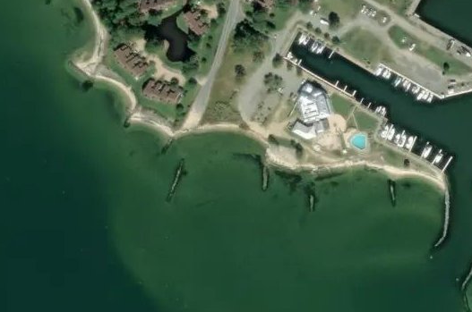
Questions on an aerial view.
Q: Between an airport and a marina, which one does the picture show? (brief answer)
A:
marina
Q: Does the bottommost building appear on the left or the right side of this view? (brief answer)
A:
right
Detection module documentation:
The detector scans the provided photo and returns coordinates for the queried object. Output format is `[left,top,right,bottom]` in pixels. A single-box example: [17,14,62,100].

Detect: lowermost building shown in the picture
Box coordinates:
[289,118,329,142]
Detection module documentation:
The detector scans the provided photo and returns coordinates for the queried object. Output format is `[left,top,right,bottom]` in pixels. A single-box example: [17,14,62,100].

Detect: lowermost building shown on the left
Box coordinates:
[144,80,181,104]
